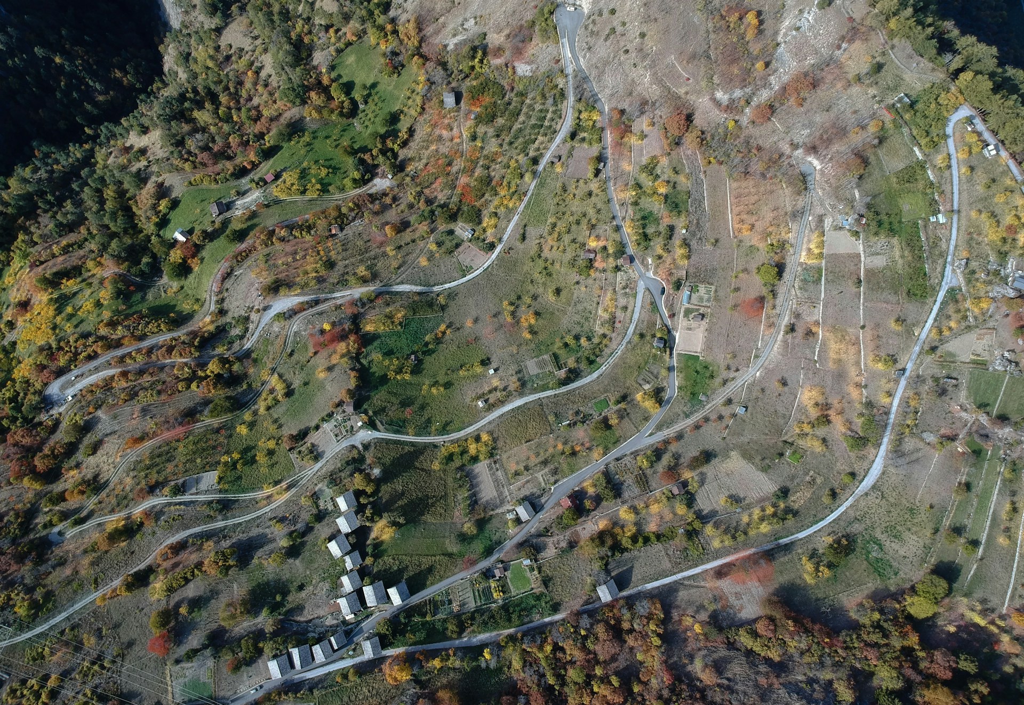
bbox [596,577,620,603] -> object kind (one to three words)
barn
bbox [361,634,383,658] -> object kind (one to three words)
barn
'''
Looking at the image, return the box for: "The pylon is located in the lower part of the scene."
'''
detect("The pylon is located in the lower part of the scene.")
[0,621,42,656]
